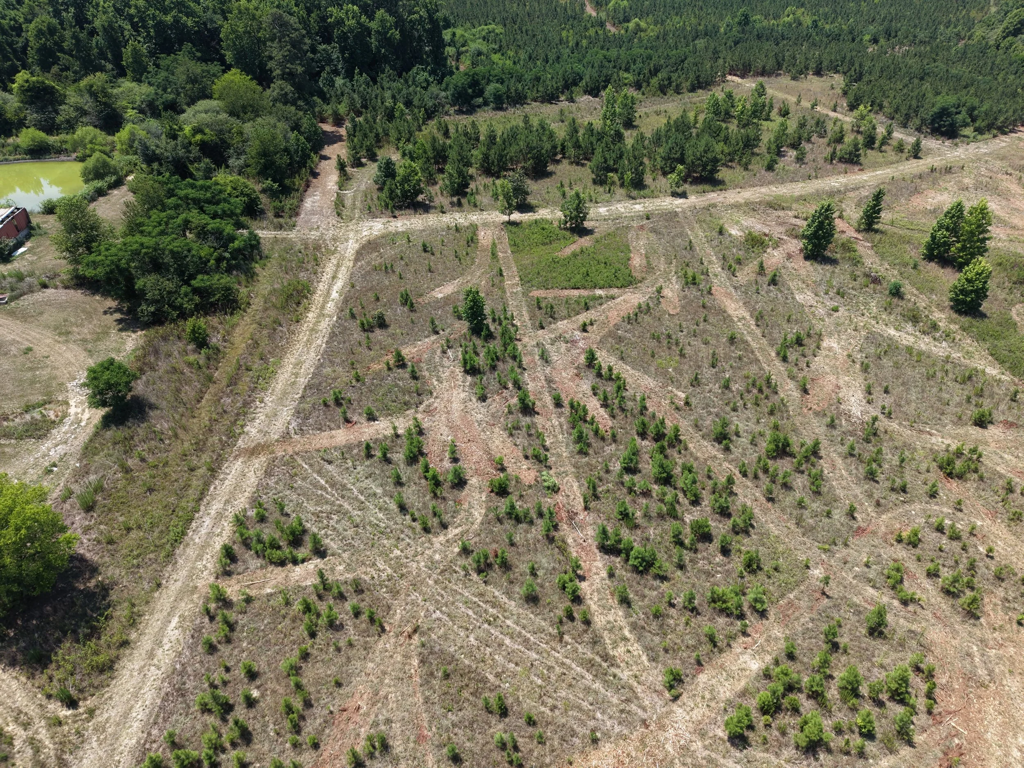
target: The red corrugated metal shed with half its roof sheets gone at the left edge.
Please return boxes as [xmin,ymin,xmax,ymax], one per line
[0,205,31,248]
